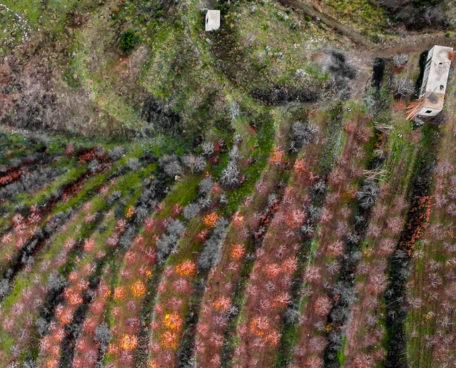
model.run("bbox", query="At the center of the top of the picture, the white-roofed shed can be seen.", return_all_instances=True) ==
[204,9,221,30]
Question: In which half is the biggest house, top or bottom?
top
